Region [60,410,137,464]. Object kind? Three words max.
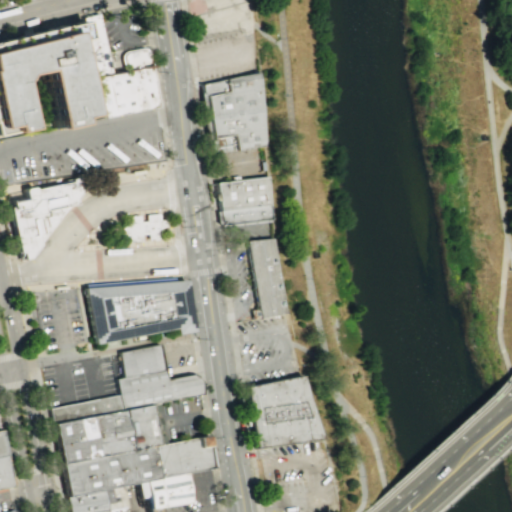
building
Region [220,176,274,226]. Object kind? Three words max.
building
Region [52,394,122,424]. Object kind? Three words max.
shed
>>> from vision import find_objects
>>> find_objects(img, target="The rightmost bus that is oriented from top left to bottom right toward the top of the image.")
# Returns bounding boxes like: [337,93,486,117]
[137,138,161,158]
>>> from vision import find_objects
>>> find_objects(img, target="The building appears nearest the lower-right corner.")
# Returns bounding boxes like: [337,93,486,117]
[253,378,326,448]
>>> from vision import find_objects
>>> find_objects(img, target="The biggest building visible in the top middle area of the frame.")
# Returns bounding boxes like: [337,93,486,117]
[204,74,268,152]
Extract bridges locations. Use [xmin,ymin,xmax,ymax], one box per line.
[368,380,512,512]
